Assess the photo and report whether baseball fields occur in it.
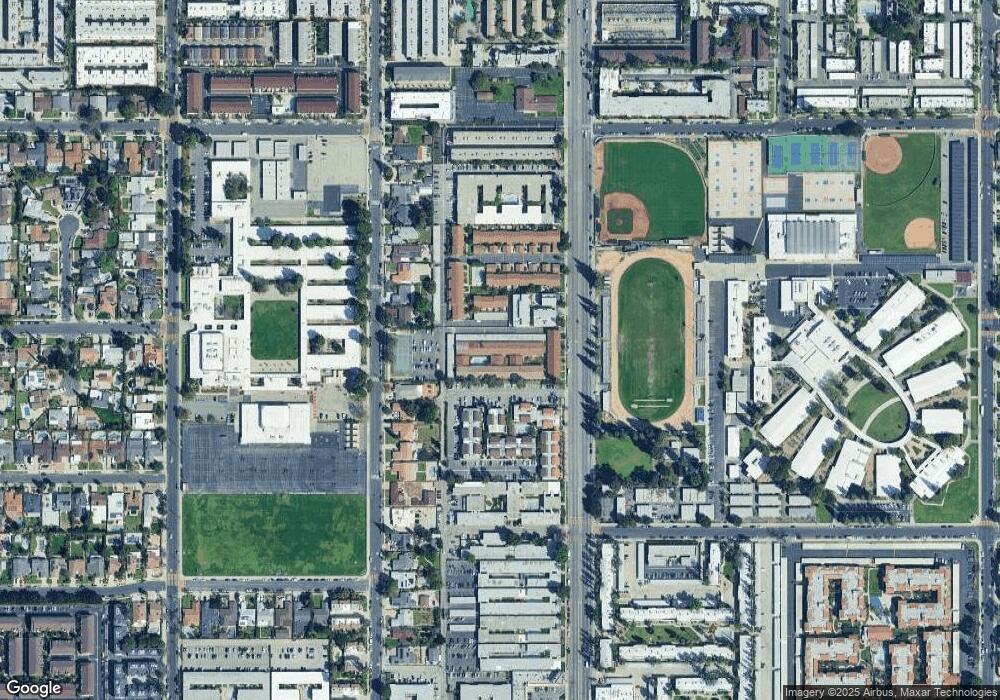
Yes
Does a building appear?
Yes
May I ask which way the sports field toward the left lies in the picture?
horizontally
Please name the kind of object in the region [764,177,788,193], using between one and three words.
sports court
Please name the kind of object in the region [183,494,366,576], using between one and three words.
sports field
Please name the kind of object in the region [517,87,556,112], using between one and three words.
house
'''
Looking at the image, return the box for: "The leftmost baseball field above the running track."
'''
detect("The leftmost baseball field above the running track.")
[598,140,705,240]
